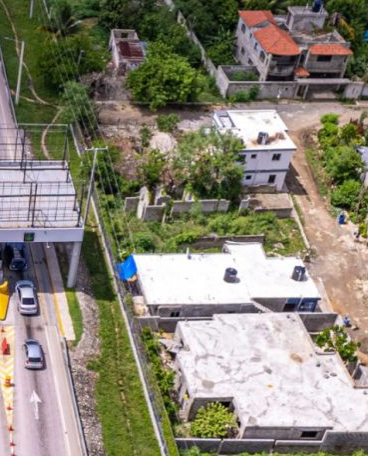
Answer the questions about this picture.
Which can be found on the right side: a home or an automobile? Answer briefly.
home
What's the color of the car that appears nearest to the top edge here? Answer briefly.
black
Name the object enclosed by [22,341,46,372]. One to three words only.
car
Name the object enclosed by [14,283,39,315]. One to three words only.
car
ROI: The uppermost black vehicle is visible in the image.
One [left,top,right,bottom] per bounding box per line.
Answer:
[5,242,27,271]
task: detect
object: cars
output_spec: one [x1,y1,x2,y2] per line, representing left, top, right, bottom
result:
[22,341,46,372]
[5,242,27,271]
[14,283,39,315]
